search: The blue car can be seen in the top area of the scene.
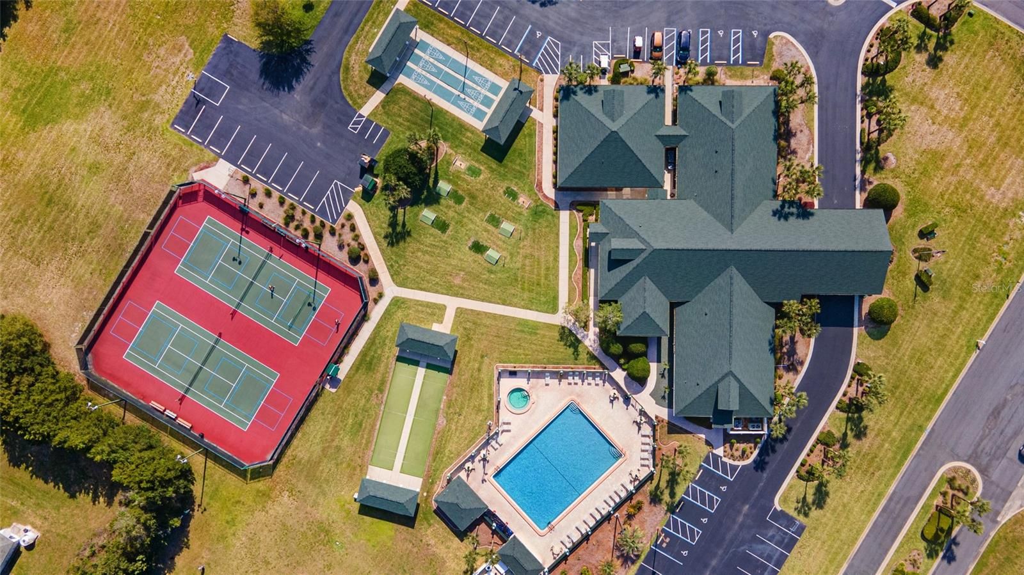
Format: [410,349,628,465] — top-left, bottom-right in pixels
[680,31,694,62]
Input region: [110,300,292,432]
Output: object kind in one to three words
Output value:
tennis court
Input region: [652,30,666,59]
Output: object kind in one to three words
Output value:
car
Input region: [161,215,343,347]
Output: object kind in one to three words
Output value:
tennis court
